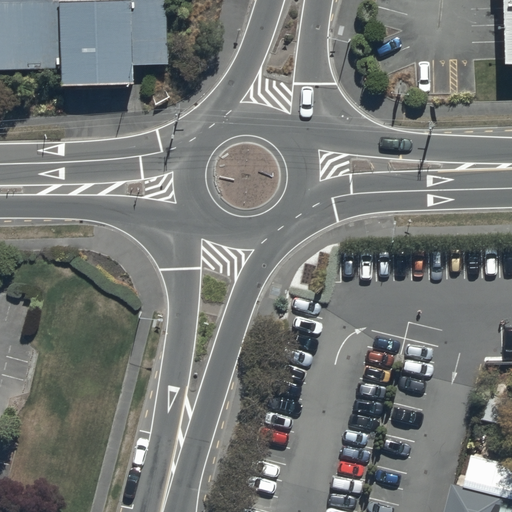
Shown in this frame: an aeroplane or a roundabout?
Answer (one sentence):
Visible in the photo is a roundabout.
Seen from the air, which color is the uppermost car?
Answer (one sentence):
In this view, the uppermost car is blue.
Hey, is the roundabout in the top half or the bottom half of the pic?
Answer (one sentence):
The roundabout sits in the top half of the picture.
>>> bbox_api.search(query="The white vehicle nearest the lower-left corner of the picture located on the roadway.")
[133,436,150,468]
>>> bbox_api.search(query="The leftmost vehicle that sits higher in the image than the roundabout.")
[300,86,314,118]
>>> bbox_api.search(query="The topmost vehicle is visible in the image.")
[376,37,402,58]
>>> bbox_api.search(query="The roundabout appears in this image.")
[187,116,307,236]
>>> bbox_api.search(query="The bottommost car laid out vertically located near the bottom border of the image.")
[124,469,142,502]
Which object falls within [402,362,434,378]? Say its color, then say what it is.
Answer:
white car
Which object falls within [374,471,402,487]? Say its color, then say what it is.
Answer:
blue car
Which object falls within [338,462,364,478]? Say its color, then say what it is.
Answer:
red car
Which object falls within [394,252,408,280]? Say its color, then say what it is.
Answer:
black car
